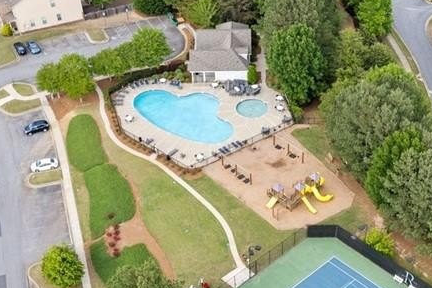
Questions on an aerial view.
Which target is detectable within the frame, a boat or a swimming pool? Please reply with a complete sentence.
I can see a swimming pool in this picture.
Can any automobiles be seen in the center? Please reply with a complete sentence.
No, there is no automobile in the center.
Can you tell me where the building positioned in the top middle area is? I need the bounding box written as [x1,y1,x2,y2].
[185,28,253,86]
